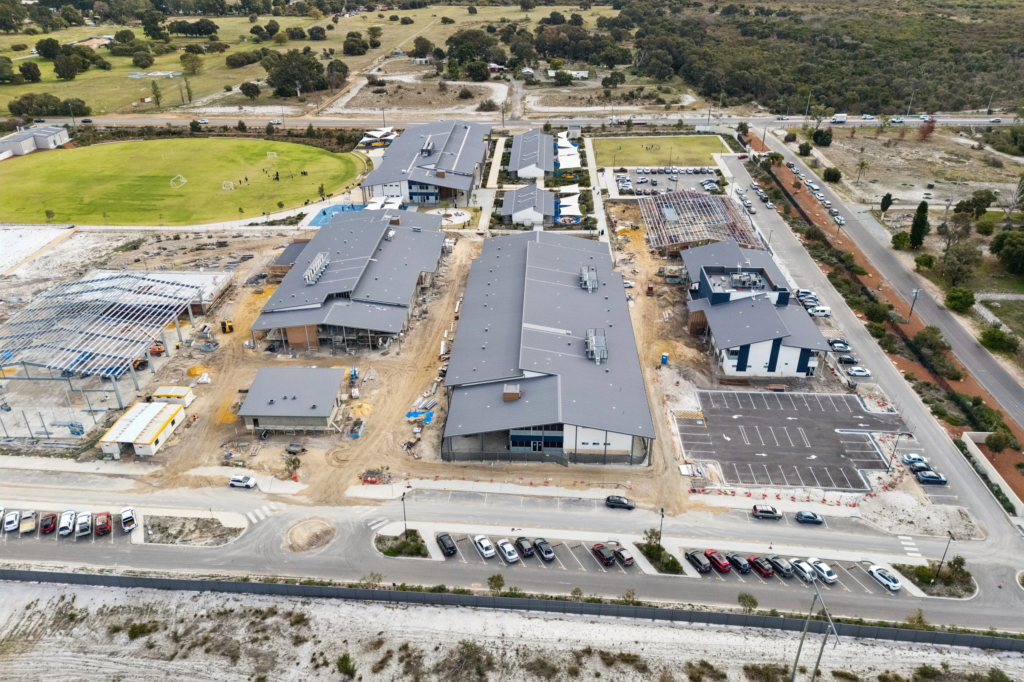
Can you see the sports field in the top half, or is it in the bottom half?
top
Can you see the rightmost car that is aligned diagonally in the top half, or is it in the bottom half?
bottom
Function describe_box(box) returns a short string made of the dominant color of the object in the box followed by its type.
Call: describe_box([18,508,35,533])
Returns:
white vehicle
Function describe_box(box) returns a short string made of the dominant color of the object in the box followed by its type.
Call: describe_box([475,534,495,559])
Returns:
white car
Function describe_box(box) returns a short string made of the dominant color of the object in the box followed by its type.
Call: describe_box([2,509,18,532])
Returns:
white car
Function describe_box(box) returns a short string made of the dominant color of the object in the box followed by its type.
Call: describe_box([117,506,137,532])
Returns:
white vehicle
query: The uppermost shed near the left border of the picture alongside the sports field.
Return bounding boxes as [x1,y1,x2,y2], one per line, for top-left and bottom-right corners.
[0,113,69,155]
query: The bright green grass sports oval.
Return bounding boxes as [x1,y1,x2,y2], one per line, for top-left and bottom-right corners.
[0,138,365,226]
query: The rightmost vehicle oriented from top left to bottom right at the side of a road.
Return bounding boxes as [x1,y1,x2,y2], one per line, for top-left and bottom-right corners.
[870,565,903,592]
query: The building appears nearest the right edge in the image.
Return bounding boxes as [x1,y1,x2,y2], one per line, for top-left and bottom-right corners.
[679,241,833,372]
